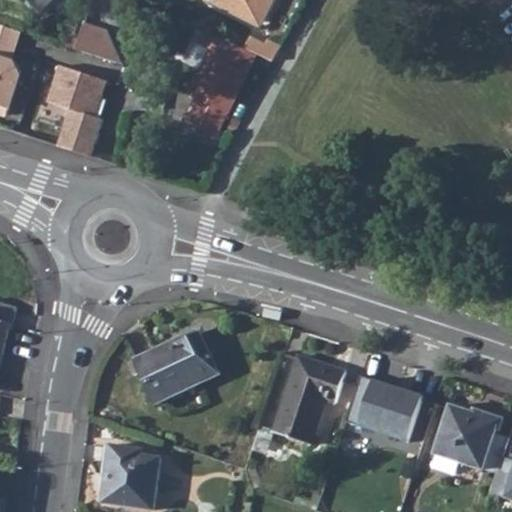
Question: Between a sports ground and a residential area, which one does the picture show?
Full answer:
The picture captures a residential area.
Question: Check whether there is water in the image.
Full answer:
No, the picture contains no water.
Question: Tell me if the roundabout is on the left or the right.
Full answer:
The roundabout appears in the left half of the scene.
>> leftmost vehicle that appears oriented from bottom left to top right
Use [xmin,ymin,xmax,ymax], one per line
[110,285,127,306]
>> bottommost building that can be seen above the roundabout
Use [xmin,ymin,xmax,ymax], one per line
[56,108,102,155]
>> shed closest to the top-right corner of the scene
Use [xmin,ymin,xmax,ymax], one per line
[246,36,281,62]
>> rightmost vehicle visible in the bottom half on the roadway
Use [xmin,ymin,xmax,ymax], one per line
[462,337,482,350]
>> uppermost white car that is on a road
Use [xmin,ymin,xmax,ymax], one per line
[212,238,236,252]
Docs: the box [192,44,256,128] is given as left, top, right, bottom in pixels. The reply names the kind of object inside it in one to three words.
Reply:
house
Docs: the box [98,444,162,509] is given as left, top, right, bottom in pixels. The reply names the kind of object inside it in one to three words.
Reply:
house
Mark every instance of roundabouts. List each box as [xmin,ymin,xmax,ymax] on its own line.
[55,185,167,289]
